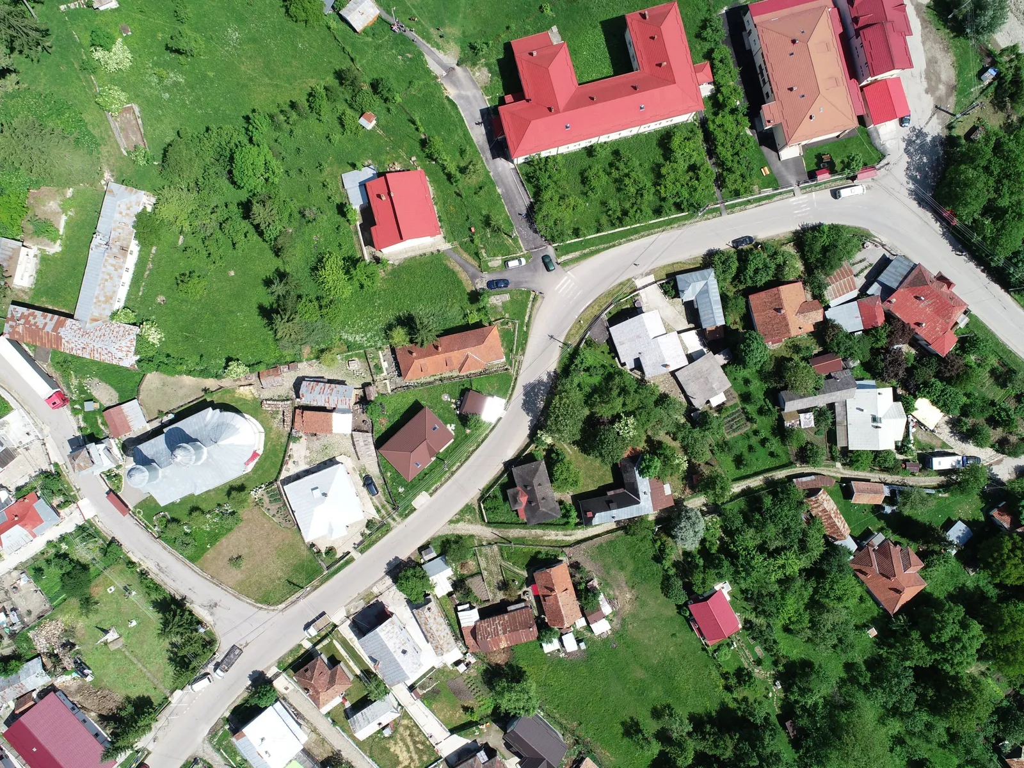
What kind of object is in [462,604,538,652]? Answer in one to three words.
barn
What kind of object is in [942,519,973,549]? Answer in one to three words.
shed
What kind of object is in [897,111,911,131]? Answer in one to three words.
car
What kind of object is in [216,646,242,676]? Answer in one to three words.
truck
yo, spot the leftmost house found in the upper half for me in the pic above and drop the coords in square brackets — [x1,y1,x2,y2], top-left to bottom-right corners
[0,240,41,289]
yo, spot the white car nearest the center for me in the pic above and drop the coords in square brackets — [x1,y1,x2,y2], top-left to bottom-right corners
[504,257,525,269]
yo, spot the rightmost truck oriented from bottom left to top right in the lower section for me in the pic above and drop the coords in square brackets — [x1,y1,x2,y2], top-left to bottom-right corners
[304,610,332,634]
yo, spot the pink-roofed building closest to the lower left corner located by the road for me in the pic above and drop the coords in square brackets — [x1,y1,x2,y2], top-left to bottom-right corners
[3,683,128,768]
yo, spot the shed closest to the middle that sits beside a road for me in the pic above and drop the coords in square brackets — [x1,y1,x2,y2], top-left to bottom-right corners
[462,391,505,422]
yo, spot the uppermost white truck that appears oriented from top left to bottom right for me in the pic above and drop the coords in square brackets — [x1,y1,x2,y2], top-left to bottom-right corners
[0,336,73,408]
